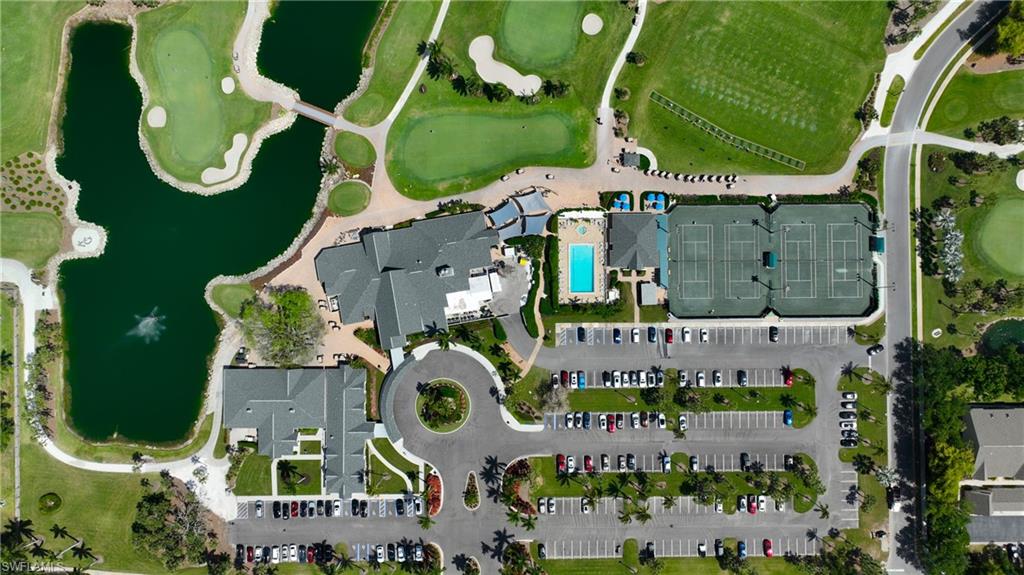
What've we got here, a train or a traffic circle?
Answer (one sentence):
I can see a traffic circle in this picture.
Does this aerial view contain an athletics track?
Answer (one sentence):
No, no athletics track is visible in the view.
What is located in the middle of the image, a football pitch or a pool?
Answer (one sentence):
Visible in the middle of the image is a pool.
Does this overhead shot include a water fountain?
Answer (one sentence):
Yes, you can see a water fountain in this photo.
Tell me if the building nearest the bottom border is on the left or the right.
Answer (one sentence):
The building nearest the bottom border sits on the right side.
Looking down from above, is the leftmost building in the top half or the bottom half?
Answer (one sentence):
It is in the bottom half that the leftmost building appears.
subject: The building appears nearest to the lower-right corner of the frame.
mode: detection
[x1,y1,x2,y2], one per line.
[959,486,1024,515]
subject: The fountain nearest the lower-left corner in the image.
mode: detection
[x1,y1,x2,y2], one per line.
[131,310,164,338]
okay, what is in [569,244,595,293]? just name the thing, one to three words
swimming pool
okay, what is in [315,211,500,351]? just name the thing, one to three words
building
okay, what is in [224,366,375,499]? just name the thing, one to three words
building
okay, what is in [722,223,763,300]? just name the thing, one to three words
tennis court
